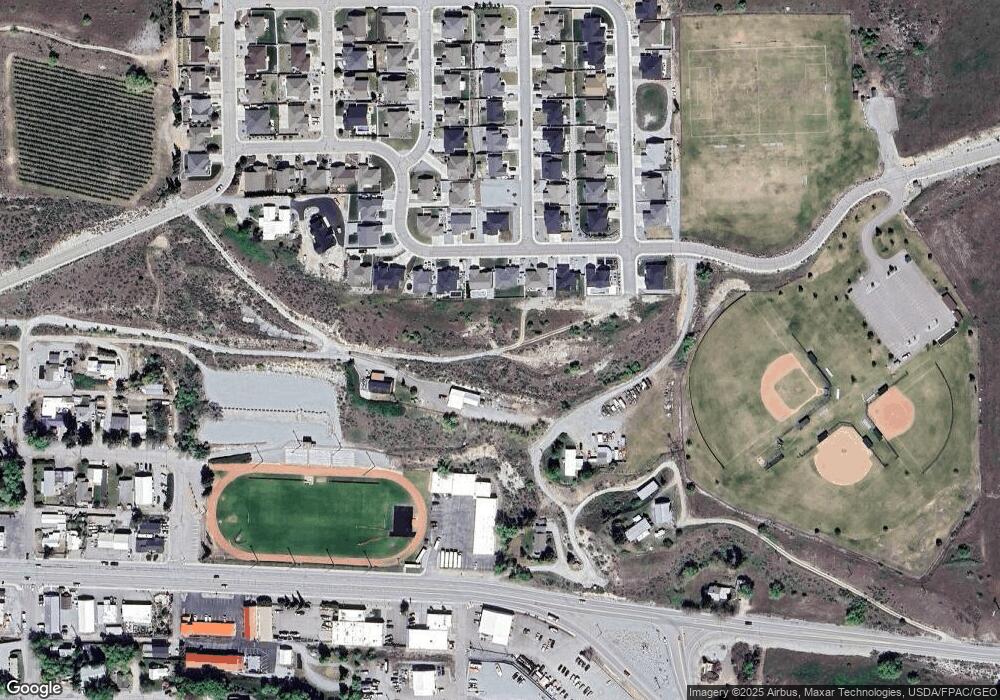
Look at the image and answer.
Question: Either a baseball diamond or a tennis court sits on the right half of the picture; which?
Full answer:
The feature located on the right half of the picture is a baseball diamond.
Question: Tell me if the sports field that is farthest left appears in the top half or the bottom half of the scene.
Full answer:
You can find the sports field that is farthest left in the bottom half.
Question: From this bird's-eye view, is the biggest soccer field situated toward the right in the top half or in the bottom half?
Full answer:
Seen from above, the biggest soccer field situated toward the right lies in the top half of the view.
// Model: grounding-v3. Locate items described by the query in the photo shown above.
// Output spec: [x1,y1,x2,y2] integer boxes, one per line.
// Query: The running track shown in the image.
[207,464,428,566]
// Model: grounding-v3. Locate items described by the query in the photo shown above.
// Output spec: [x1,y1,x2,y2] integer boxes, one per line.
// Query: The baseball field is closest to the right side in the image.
[868,388,915,439]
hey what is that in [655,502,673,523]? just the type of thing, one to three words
barn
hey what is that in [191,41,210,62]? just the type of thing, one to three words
house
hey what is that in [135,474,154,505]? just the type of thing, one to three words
building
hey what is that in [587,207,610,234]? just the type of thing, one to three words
house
